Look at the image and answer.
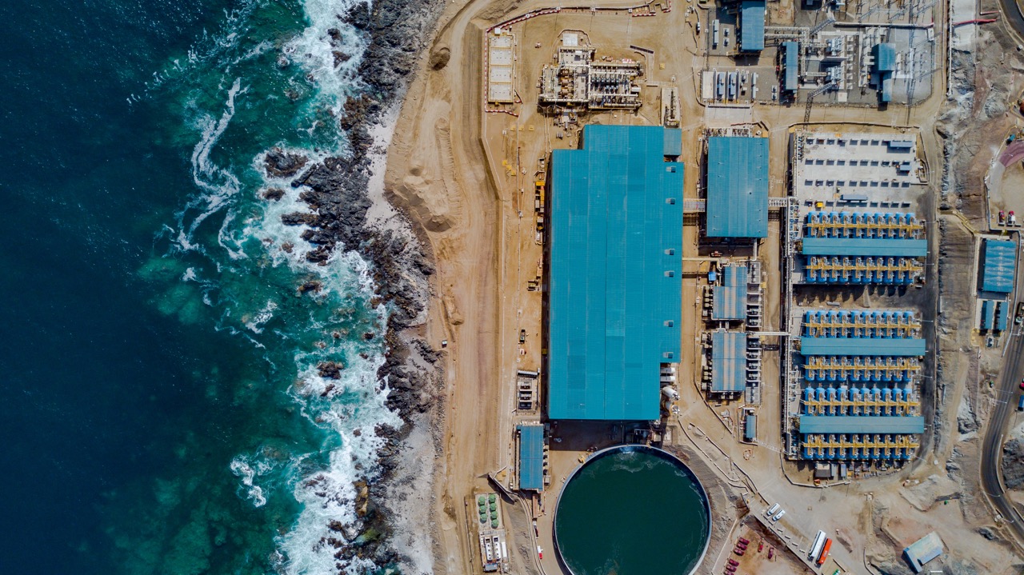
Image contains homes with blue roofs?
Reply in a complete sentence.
Yes, the frame does contain a home with a blue roof.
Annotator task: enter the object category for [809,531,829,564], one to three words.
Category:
bus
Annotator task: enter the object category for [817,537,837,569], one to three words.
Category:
bus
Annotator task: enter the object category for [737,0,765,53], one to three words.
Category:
building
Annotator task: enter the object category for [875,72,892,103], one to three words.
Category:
house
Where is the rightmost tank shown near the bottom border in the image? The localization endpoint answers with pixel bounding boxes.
[553,442,712,575]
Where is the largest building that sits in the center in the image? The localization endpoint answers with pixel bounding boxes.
[547,125,684,420]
